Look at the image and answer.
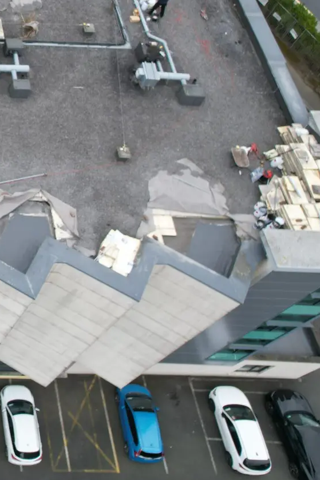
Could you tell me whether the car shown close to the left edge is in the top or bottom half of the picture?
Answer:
bottom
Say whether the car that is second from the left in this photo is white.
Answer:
No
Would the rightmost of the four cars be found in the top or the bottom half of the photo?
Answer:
bottom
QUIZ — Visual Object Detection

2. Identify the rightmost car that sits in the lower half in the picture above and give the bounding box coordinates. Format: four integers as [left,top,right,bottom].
[265,391,320,480]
